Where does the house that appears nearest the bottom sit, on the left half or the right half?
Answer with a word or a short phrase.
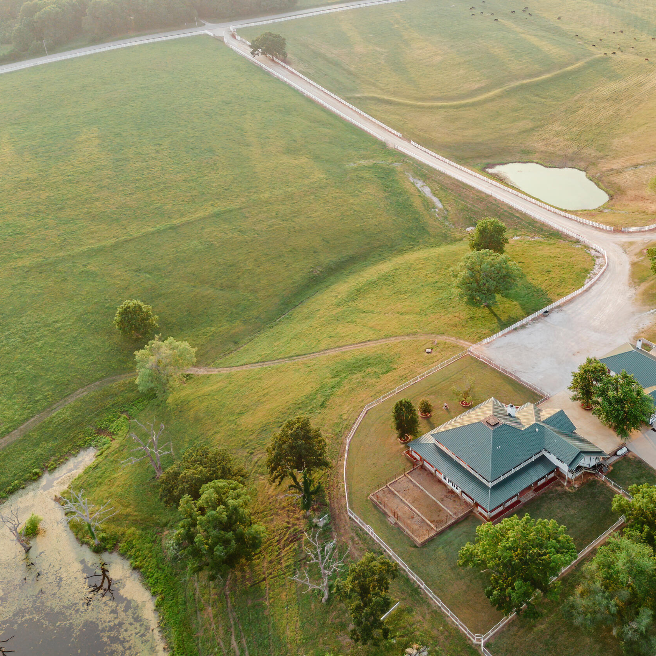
right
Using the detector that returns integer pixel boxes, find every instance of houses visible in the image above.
[407,396,610,526]
[598,338,656,419]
